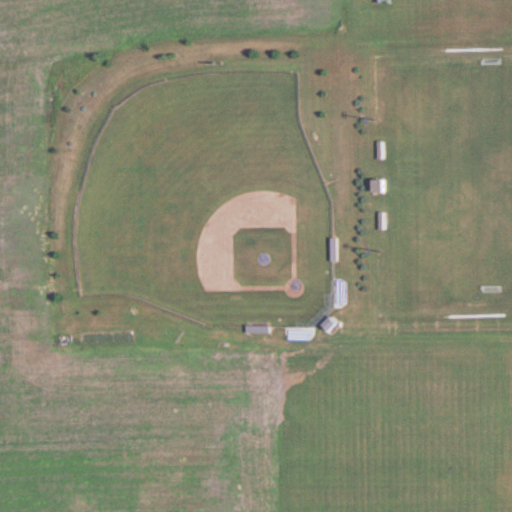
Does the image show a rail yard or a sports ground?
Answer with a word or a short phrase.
sports ground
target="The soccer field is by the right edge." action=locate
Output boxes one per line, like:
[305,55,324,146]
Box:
[386,63,512,314]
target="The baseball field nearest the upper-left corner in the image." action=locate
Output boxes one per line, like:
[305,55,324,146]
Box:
[76,72,334,327]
